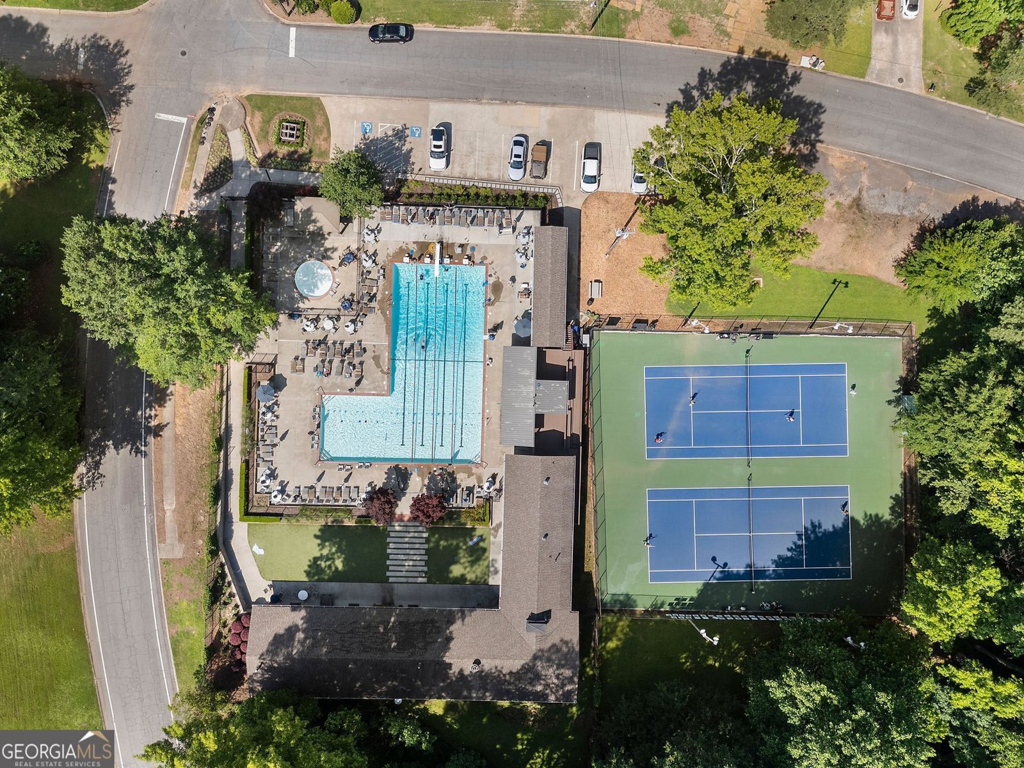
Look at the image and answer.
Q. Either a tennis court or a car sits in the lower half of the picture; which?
tennis court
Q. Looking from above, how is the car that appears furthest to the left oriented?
horizontally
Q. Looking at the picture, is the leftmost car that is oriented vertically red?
No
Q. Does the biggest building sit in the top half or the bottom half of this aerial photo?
bottom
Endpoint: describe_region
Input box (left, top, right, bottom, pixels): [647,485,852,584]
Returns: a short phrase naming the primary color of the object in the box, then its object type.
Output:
blue tennis court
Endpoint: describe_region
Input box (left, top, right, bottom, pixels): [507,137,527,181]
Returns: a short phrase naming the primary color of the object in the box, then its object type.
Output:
white car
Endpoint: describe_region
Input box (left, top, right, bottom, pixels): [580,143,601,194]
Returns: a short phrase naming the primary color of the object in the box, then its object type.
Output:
white truck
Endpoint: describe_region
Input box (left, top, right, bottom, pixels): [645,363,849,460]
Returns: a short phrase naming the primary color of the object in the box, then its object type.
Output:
blue tennis court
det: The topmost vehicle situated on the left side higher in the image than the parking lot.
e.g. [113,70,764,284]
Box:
[369,22,411,44]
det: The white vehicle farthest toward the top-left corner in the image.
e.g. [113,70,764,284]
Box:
[427,127,447,171]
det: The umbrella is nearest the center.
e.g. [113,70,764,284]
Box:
[513,319,531,338]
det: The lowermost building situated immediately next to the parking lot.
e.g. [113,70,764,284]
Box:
[244,455,581,704]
